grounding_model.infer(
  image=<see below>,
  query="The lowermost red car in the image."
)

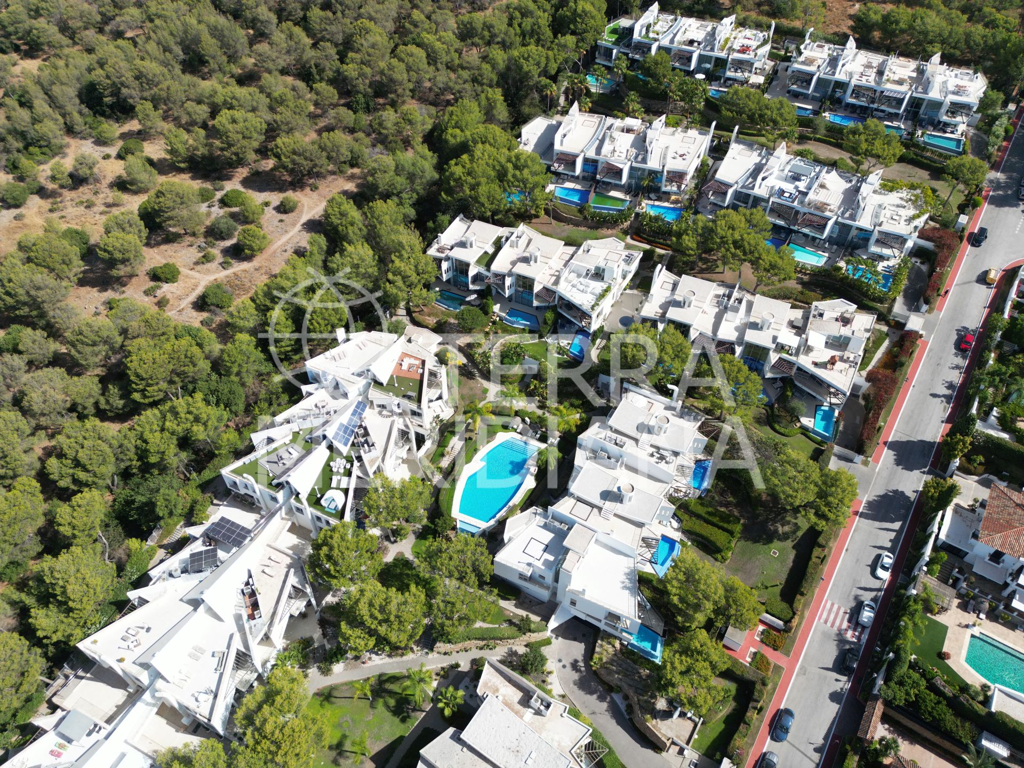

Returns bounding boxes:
[957,334,975,354]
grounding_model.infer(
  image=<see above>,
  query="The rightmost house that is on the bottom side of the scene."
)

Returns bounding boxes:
[930,481,1024,623]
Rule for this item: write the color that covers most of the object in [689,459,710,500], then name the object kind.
blue swimming pool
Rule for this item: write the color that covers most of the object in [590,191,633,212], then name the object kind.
green swimming pool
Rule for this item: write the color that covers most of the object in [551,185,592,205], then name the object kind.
blue swimming pool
